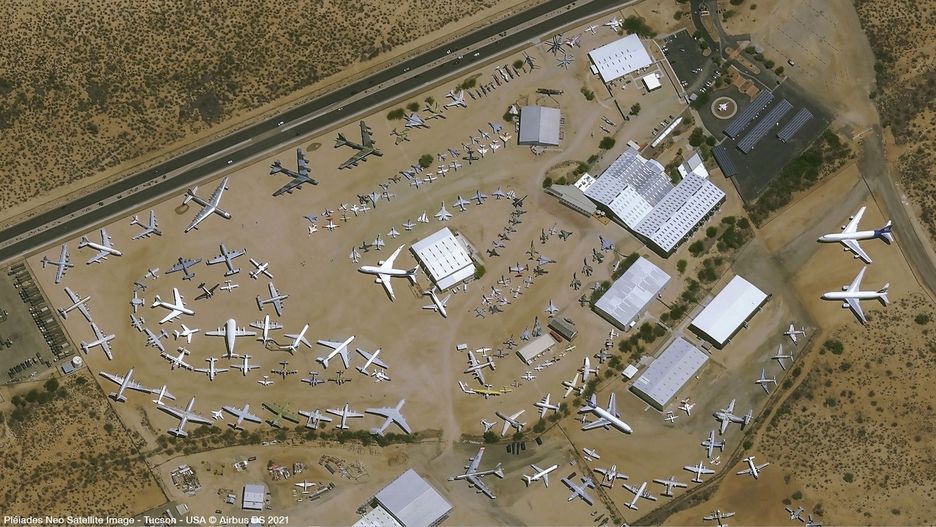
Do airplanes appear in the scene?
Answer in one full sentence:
Yes, the frame does contain an airplane.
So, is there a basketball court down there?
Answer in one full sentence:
No, the picture doesn't show any basketball court.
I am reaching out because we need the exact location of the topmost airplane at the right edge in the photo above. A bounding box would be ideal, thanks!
[818,204,895,262]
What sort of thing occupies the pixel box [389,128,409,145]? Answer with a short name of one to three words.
airplane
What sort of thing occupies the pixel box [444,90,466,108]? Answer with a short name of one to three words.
airplane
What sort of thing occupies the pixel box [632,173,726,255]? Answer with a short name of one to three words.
building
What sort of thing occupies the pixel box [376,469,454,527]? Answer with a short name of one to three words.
hangar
